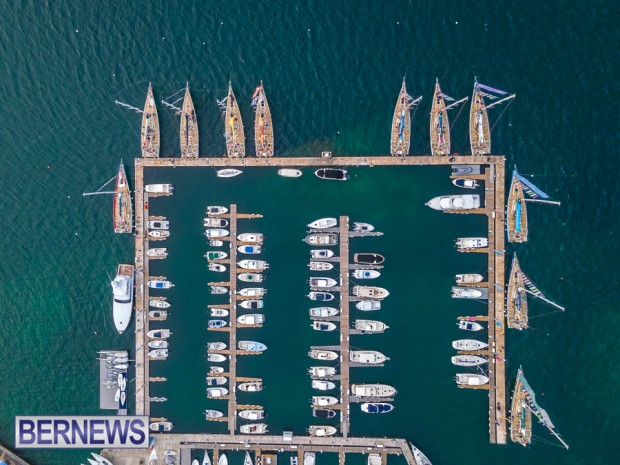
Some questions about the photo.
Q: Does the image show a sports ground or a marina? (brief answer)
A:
marina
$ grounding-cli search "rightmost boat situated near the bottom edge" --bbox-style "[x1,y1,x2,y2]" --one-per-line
[504,366,564,444]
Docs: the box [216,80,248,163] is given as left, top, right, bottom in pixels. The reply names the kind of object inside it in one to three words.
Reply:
boat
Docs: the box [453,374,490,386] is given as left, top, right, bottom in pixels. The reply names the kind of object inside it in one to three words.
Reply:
boat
